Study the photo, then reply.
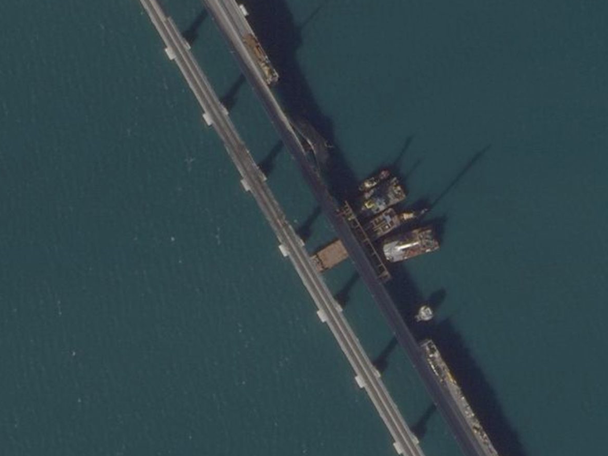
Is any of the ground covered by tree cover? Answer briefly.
No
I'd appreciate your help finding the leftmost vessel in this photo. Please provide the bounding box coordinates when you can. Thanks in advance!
[311,239,348,272]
